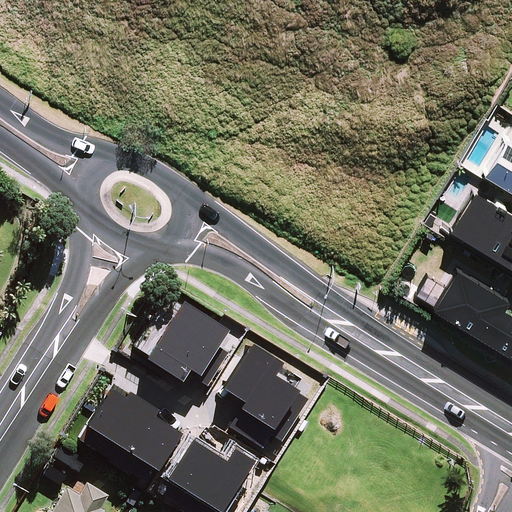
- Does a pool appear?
Yes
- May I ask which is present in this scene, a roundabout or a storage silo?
roundabout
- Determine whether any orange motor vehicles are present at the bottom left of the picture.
Yes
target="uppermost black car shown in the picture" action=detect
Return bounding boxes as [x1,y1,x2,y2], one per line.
[196,202,222,224]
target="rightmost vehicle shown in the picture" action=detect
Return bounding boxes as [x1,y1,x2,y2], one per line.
[442,400,468,420]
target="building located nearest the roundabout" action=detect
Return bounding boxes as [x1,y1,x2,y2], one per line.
[149,295,230,384]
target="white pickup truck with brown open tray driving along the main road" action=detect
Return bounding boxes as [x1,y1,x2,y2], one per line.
[322,324,352,350]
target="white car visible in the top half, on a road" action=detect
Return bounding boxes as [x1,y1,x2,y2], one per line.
[70,136,96,154]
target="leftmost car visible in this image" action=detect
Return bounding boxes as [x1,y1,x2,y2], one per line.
[8,362,28,388]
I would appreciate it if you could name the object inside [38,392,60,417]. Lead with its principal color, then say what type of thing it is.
orange car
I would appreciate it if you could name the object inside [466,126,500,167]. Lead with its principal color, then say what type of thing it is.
blue swimming pool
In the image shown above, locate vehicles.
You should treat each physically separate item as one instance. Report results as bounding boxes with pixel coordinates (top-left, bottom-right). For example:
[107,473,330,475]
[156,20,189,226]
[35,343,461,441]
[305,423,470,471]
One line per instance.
[38,392,60,417]
[55,362,78,390]
[322,324,352,350]
[442,400,468,420]
[70,136,96,154]
[196,202,222,224]
[160,406,182,424]
[8,362,28,388]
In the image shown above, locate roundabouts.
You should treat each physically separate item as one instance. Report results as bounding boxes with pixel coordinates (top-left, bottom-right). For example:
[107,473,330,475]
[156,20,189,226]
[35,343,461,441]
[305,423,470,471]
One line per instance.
[100,170,172,232]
